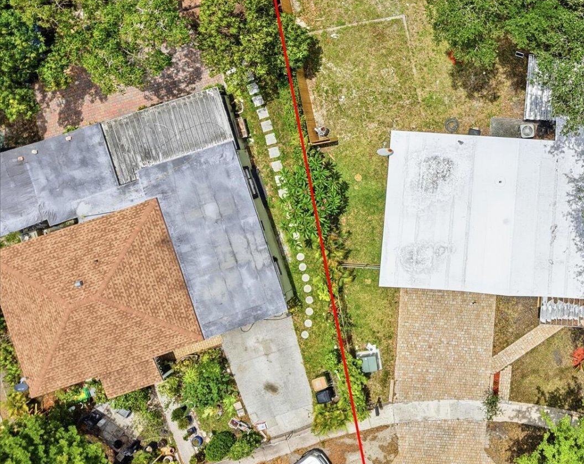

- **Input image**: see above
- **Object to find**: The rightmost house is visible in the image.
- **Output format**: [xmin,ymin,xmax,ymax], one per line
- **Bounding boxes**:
[379,116,584,300]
